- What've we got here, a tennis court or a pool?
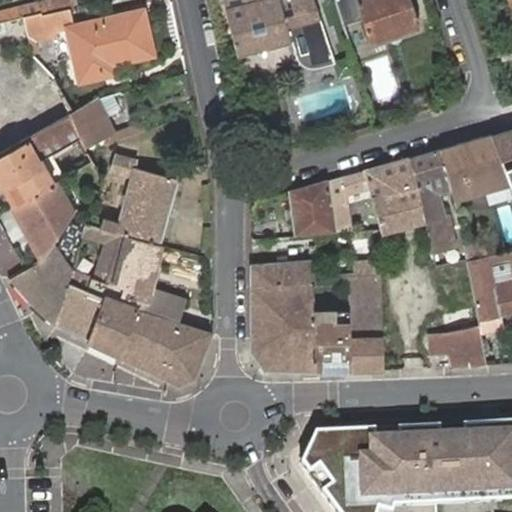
pool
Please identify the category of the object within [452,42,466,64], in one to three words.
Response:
vehicle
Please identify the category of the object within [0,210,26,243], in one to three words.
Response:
shed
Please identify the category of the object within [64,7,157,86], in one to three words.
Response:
house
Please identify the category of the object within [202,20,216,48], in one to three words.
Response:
vehicle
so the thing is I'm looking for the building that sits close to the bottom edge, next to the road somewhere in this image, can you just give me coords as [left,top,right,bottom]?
[302,418,512,512]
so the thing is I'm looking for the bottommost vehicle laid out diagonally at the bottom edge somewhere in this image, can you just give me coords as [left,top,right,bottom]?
[276,478,294,498]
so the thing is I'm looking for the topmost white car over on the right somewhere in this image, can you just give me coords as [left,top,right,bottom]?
[444,17,457,38]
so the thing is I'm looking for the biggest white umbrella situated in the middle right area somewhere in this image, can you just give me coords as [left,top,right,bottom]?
[446,250,460,264]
